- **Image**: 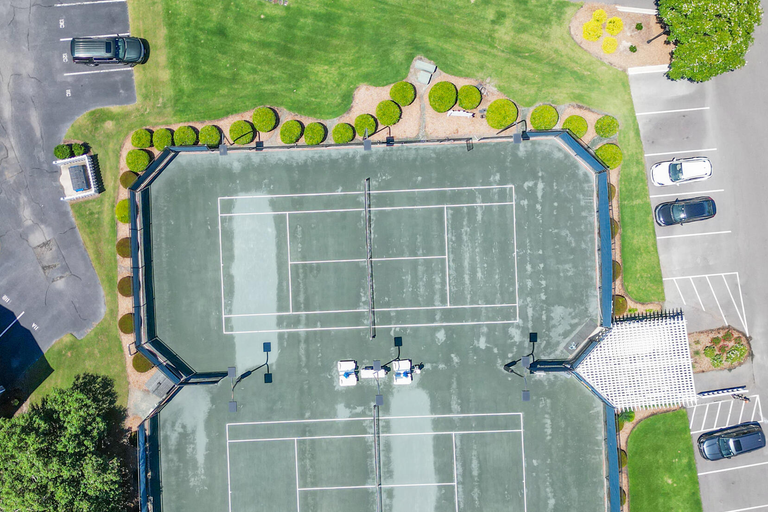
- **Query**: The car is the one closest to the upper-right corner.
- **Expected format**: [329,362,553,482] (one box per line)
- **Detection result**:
[648,157,711,186]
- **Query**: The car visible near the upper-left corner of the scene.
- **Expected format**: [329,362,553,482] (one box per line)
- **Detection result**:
[70,33,144,67]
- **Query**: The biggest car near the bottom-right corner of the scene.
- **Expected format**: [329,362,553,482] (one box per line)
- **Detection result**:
[694,423,767,460]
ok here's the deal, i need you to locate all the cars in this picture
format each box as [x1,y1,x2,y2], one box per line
[651,198,716,227]
[694,423,767,460]
[648,157,711,186]
[70,33,144,67]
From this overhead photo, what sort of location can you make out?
sports ground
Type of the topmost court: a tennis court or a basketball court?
tennis court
